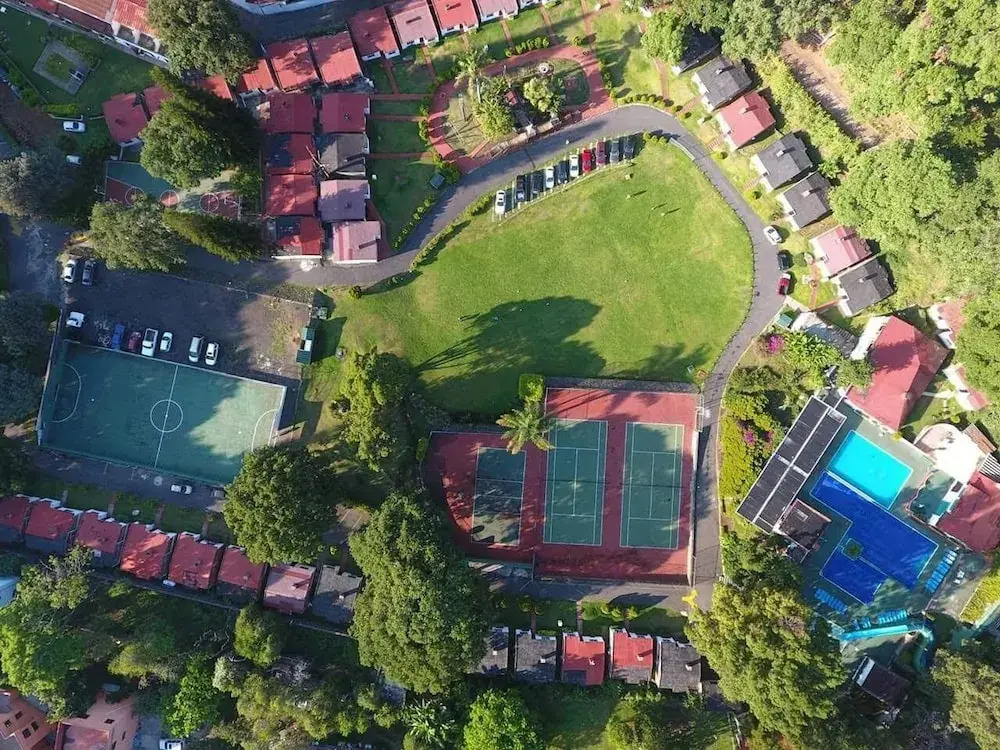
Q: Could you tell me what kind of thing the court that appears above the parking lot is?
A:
basketball court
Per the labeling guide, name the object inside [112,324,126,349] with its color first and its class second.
blue vehicle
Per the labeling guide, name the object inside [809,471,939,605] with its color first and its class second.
blue swimming pool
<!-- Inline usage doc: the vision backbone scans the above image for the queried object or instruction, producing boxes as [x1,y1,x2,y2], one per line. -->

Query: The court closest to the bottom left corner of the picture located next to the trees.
[42,344,285,485]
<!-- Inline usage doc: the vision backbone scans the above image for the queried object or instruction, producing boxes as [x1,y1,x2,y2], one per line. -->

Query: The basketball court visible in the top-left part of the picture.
[103,160,242,216]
